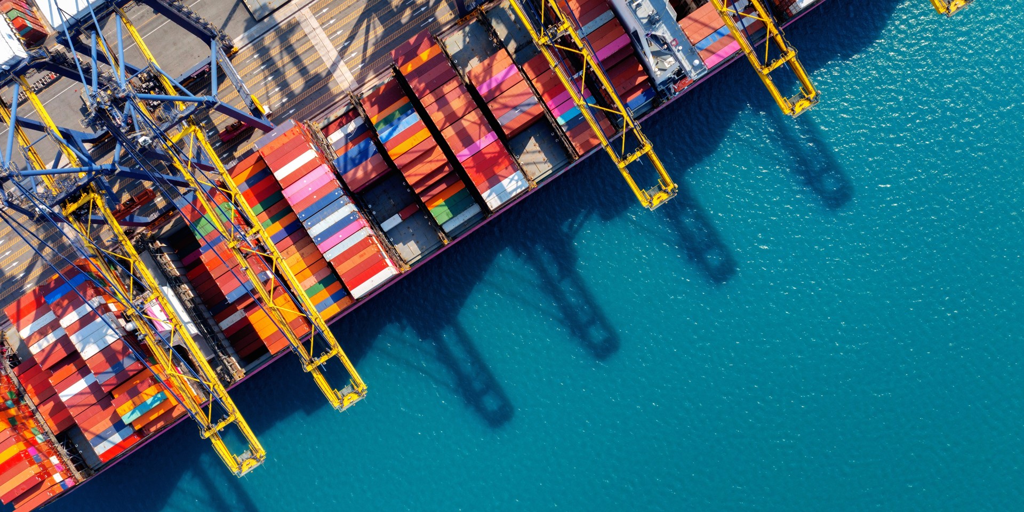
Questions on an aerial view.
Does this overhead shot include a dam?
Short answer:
No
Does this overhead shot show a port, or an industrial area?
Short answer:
port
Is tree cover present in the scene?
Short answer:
No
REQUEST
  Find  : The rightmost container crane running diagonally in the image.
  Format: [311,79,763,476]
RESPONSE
[712,0,824,120]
